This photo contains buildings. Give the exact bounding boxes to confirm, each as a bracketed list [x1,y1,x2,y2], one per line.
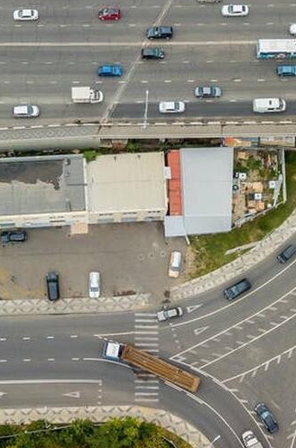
[164,147,234,241]
[89,151,167,225]
[0,153,89,235]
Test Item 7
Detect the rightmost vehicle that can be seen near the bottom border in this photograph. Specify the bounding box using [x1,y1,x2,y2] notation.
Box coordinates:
[255,403,278,433]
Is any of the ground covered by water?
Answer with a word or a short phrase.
No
